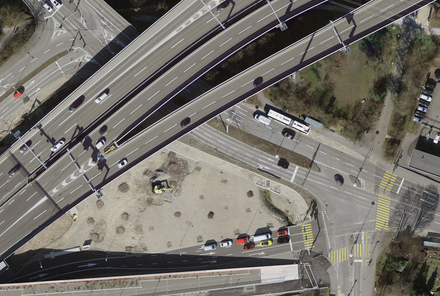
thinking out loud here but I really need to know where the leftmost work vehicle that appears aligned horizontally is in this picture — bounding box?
[151,182,175,194]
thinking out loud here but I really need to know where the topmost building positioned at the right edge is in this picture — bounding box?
[410,148,440,176]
